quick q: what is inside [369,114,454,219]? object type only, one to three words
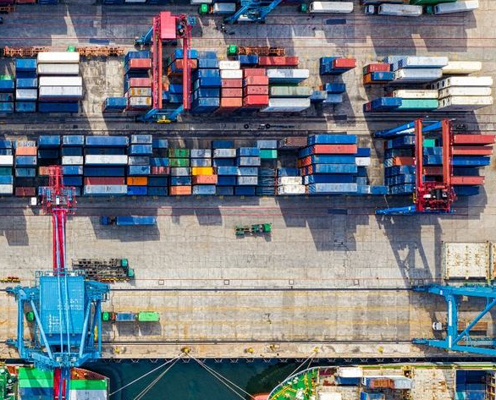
container crane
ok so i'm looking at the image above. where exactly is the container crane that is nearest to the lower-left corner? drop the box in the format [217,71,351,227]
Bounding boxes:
[5,167,110,400]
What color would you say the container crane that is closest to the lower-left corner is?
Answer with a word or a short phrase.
blue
